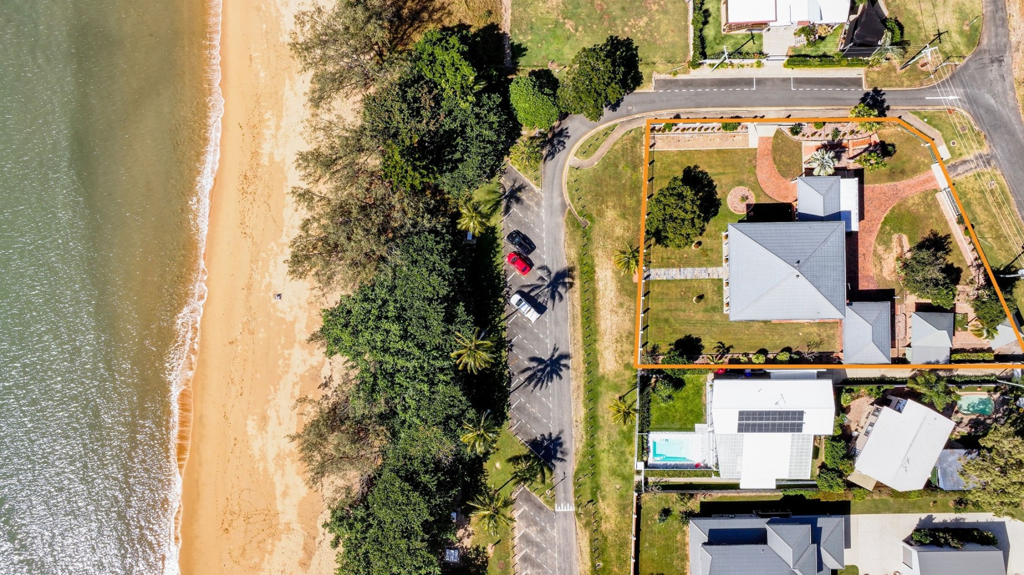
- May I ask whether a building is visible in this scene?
Yes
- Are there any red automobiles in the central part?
Yes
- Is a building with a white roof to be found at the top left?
No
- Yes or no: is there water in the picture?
Yes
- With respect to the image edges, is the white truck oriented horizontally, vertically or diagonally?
diagonally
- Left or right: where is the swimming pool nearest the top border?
right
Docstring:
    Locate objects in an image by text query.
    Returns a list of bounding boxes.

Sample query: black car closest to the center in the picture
[507,228,536,257]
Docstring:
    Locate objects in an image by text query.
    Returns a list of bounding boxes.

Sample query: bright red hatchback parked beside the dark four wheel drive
[505,251,532,276]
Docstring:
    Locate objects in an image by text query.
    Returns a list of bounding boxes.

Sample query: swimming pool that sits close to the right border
[950,387,1002,423]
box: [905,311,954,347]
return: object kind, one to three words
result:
shed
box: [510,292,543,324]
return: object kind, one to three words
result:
truck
